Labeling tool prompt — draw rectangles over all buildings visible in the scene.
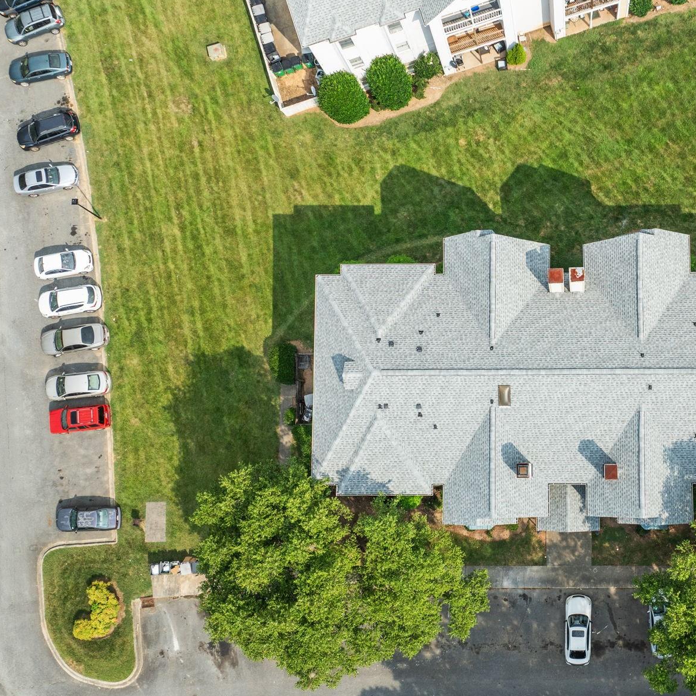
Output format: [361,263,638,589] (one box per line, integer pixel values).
[311,231,696,534]
[285,0,633,85]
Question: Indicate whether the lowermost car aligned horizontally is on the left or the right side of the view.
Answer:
left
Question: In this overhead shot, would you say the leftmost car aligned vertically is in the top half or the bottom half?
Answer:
bottom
